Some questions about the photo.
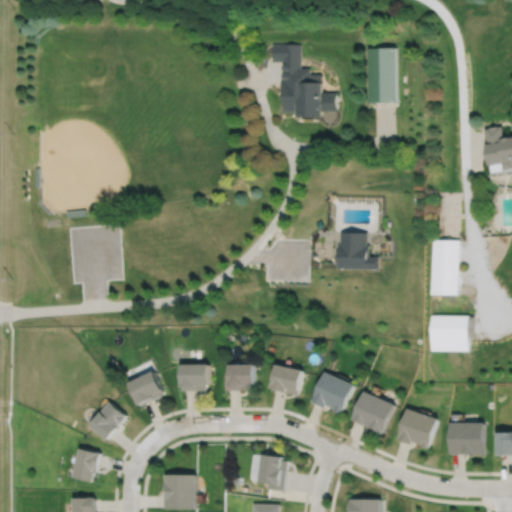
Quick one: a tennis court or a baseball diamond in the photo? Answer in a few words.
baseball diamond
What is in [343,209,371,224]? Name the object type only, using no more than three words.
swimming pool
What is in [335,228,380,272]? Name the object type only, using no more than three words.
building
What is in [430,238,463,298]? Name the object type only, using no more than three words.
barn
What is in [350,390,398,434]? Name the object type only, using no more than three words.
house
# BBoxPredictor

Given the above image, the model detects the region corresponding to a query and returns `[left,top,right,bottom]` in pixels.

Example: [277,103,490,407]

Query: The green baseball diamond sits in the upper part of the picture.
[41,36,212,214]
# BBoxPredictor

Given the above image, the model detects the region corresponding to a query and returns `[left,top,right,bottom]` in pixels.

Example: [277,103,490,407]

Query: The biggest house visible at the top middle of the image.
[271,42,337,121]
